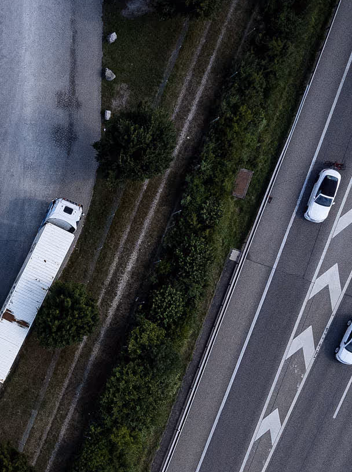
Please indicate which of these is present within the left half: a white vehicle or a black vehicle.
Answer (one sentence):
The feature located within the left half is a white vehicle.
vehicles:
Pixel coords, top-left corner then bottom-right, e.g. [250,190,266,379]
[301,165,344,226]
[334,317,352,369]
[0,197,85,383]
